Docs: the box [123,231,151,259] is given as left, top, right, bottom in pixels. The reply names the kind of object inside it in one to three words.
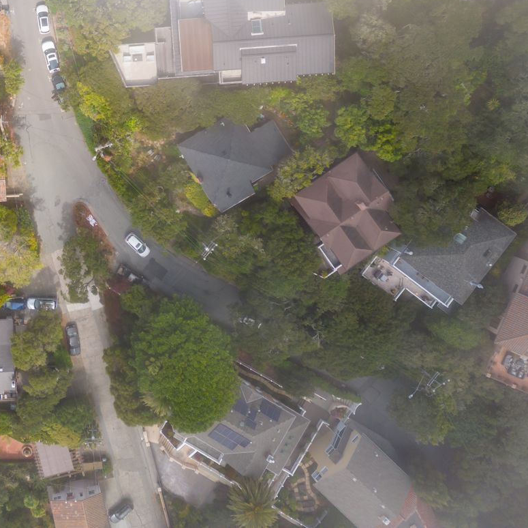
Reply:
car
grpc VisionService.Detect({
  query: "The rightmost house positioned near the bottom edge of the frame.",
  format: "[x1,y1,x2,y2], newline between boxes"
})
[293,406,436,528]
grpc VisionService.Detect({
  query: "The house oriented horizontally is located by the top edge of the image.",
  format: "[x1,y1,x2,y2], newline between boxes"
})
[110,0,335,88]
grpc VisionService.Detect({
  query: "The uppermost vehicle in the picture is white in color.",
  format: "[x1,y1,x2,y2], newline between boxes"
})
[35,3,51,35]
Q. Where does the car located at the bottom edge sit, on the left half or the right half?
left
